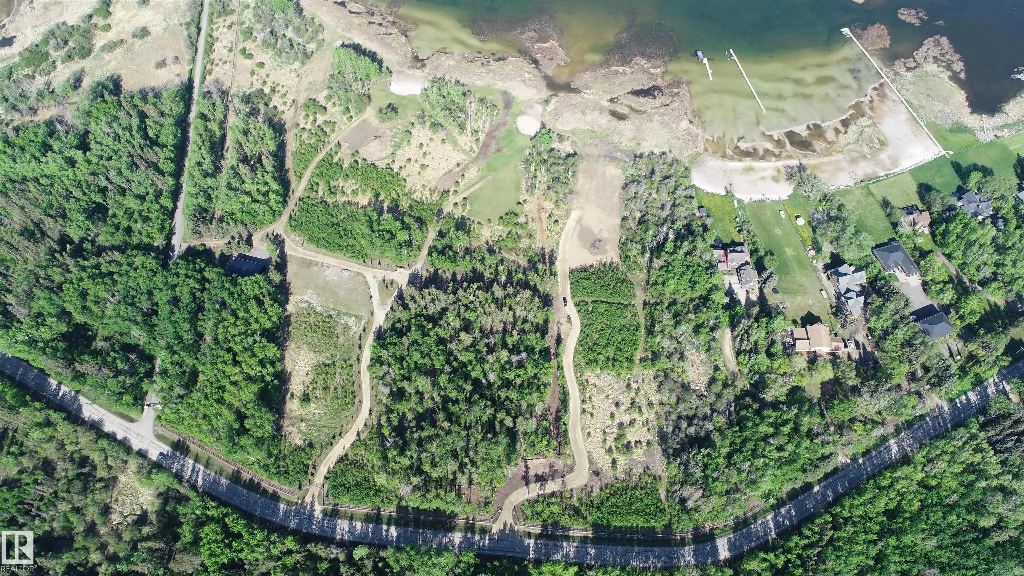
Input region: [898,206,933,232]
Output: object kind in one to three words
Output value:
house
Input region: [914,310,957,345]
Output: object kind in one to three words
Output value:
building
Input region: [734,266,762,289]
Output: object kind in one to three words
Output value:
building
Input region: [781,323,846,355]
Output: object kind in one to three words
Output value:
house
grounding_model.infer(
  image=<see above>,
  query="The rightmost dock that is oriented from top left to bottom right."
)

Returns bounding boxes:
[840,30,949,158]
